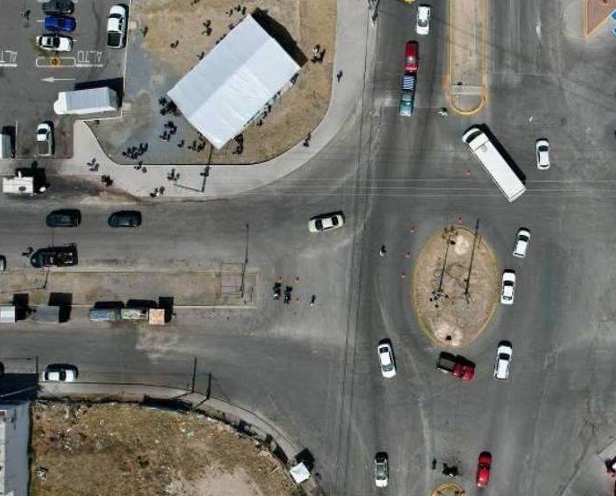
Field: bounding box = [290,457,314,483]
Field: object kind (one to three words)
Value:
gazebo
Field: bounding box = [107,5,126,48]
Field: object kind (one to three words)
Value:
vehicle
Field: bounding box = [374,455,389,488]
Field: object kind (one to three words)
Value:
car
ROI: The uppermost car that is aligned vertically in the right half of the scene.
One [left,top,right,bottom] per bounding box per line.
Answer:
[416,5,431,37]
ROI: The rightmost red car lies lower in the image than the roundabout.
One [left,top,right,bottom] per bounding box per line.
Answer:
[476,452,493,488]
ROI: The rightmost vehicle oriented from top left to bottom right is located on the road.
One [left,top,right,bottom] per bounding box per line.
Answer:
[463,128,526,203]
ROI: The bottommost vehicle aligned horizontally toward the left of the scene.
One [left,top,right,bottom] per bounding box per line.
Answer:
[45,368,78,383]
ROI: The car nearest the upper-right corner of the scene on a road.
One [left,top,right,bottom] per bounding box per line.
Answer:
[536,139,551,169]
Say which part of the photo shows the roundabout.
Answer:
right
